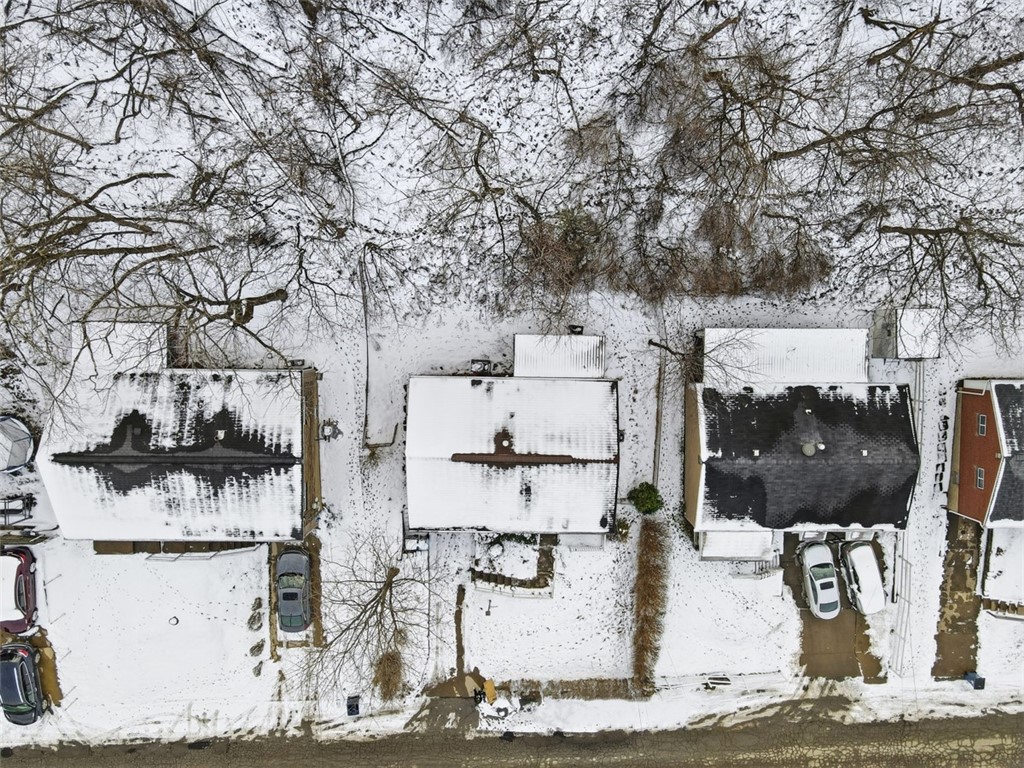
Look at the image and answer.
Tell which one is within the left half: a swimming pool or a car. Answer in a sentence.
Visible within the left half is a car.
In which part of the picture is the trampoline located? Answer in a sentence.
The trampoline sits in the left section of the image.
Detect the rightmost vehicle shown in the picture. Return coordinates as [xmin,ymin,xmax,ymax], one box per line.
[840,540,893,617]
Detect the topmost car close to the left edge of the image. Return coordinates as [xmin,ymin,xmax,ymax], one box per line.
[0,551,36,636]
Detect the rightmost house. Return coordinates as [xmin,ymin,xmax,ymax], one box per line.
[947,379,1024,528]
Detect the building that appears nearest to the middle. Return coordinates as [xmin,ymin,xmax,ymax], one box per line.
[404,334,622,553]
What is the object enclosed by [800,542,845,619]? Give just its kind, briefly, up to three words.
car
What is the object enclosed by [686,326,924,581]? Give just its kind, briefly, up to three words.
house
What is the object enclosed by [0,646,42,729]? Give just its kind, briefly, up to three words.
car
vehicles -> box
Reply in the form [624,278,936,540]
[0,551,36,636]
[800,542,845,619]
[0,646,42,729]
[840,540,893,617]
[269,551,311,633]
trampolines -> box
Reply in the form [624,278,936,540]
[0,410,41,478]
